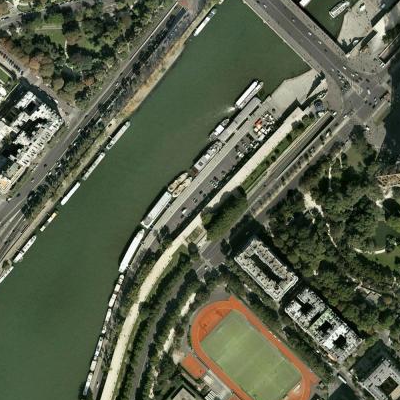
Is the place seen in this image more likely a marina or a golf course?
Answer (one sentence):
The area seen from above is a marina.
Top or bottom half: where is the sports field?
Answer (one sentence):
The sports field is in the bottom half of the image.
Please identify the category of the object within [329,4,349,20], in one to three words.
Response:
boat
